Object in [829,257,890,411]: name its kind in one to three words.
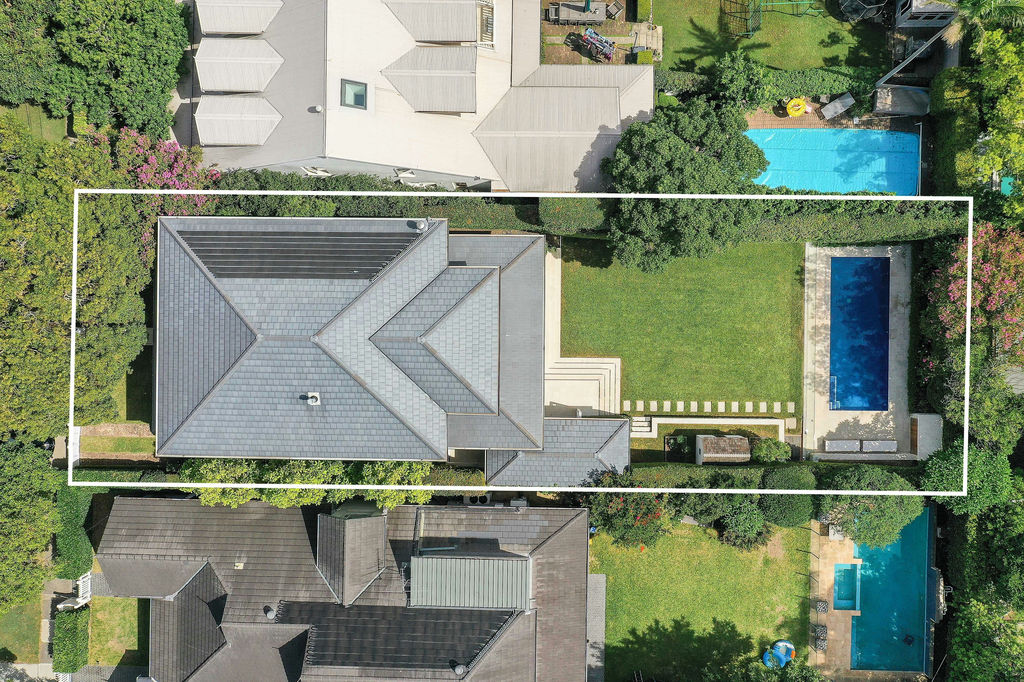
swimming pool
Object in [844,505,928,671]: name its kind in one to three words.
swimming pool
